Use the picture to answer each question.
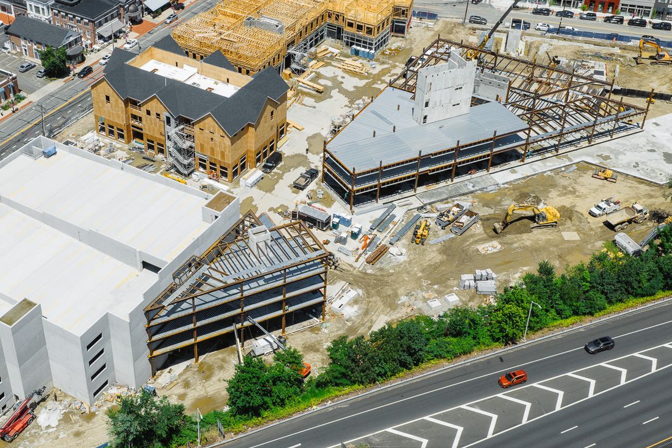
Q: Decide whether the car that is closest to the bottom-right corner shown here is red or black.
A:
black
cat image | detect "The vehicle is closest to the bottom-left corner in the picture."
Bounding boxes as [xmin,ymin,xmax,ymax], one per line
[0,399,38,439]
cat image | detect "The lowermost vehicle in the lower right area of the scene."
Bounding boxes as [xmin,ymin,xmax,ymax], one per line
[497,366,530,388]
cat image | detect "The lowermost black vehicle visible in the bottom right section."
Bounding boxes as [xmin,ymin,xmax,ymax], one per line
[585,333,615,353]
